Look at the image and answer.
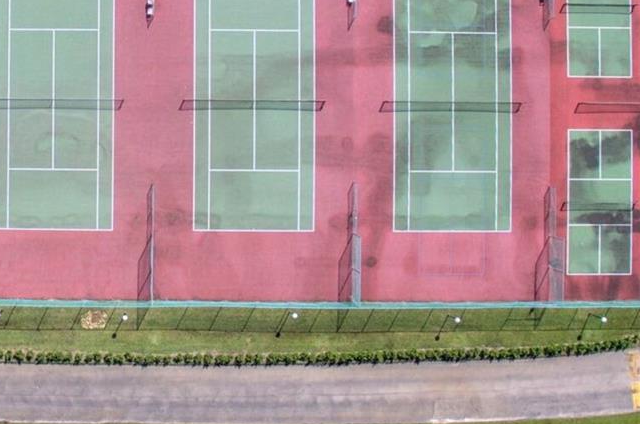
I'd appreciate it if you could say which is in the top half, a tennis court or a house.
tennis court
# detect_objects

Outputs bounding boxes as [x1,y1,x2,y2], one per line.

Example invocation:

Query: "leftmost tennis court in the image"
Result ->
[0,0,114,230]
